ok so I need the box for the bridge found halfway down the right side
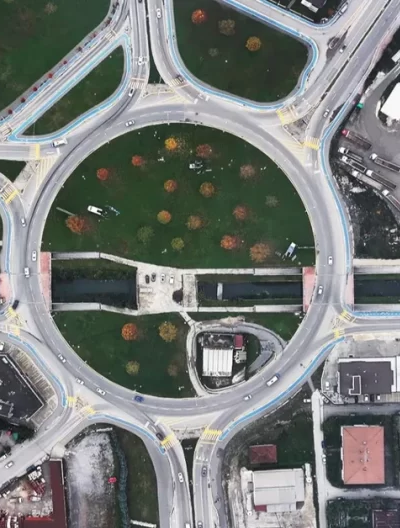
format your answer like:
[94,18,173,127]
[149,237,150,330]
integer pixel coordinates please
[302,266,353,311]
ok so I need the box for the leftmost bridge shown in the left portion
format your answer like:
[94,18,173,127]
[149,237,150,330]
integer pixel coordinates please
[0,252,51,309]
